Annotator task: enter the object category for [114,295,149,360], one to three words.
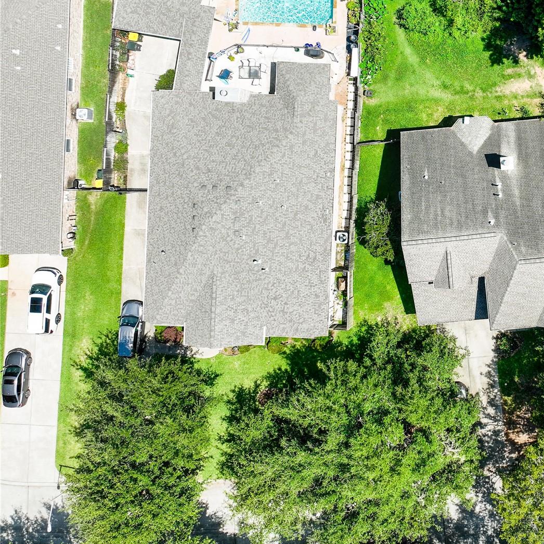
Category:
car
